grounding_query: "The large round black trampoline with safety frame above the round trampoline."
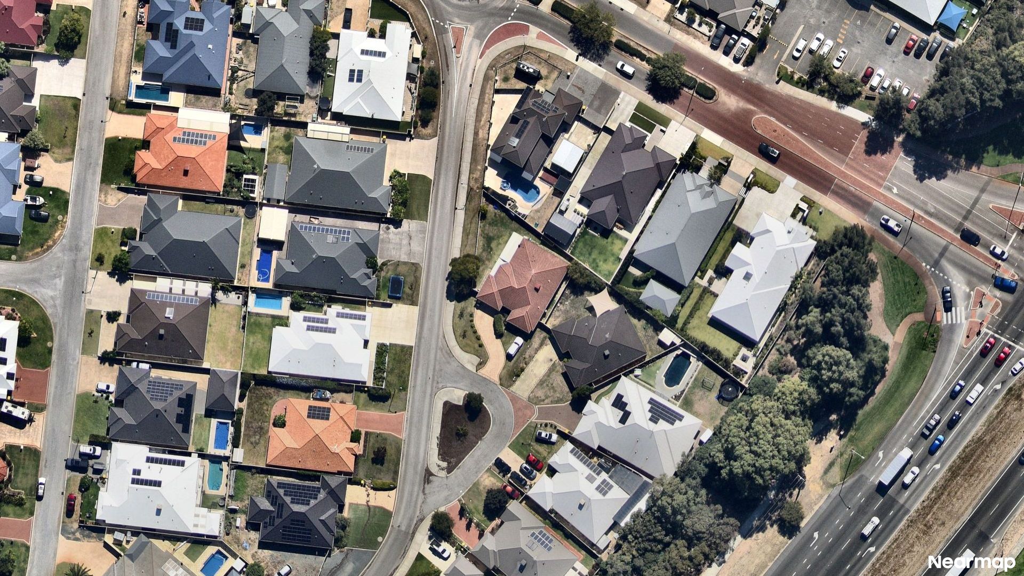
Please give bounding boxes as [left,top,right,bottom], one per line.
[720,380,740,400]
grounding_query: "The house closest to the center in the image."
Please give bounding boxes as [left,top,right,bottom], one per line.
[476,235,570,334]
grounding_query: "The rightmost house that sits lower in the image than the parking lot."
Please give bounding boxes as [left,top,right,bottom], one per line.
[710,212,817,342]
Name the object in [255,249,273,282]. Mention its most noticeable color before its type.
blue swimming pool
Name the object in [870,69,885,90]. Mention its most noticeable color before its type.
white vehicle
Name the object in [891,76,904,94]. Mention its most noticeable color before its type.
white vehicle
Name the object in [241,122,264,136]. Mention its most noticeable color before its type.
blue swimming pool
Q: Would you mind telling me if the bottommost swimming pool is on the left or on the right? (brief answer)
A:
left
